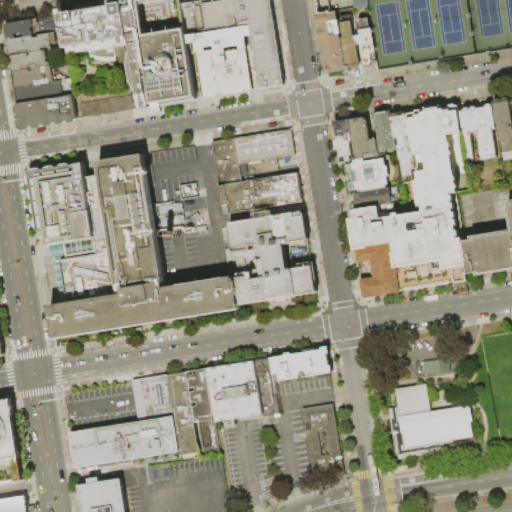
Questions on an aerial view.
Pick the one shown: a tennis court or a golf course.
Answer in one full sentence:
There is a tennis court in the scene.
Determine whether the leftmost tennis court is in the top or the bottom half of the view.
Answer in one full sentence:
You can find the leftmost tennis court in the top half.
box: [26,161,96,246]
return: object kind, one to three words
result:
building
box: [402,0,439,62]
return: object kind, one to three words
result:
tennis court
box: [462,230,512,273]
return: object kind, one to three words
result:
building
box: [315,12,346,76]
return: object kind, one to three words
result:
house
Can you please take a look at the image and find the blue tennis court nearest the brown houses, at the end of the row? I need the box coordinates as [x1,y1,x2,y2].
[368,0,410,68]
